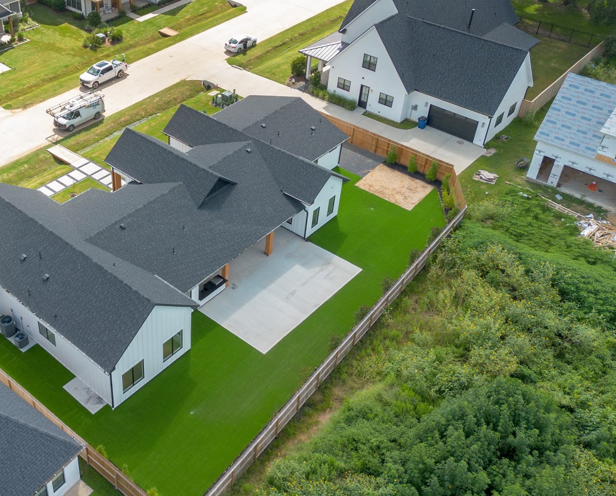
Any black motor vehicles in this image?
No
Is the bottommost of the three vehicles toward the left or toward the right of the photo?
left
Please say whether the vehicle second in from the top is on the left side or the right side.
left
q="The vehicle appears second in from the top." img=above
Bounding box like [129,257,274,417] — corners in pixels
[78,59,126,89]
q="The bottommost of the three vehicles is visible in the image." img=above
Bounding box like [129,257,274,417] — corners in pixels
[47,87,105,131]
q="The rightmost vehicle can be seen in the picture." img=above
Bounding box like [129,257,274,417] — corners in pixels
[225,35,256,52]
